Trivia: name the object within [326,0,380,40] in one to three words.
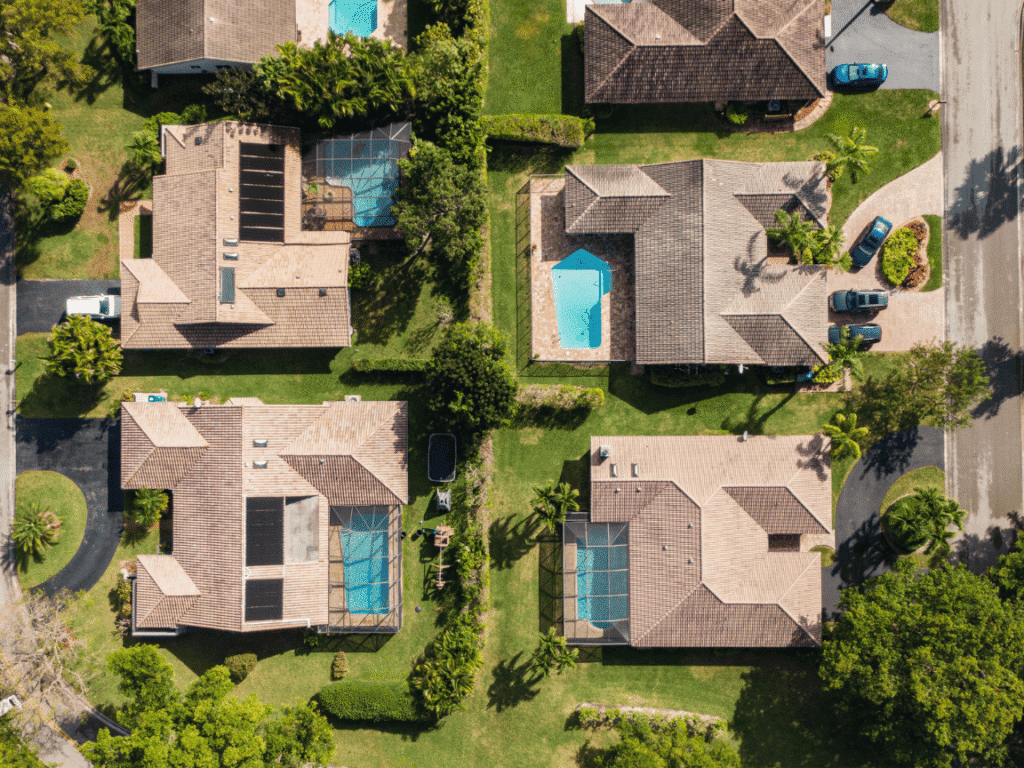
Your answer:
swimming pool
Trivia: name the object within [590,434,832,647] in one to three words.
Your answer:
house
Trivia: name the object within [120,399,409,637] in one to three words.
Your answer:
house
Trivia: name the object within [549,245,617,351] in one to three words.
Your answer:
swimming pool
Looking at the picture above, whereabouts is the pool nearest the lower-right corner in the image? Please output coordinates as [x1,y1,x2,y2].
[574,523,629,632]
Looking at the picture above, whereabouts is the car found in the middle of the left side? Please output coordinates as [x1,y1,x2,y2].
[65,291,121,320]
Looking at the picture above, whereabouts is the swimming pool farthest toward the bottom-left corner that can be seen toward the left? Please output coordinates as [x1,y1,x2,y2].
[338,510,391,617]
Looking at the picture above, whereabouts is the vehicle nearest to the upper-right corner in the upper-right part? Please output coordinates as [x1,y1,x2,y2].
[828,60,888,90]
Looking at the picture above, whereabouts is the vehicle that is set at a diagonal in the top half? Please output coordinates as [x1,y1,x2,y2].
[848,215,895,270]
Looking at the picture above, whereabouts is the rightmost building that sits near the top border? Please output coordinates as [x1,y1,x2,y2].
[584,0,832,115]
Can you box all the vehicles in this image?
[848,215,895,270]
[828,287,890,315]
[828,60,888,90]
[65,291,121,320]
[828,321,882,346]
